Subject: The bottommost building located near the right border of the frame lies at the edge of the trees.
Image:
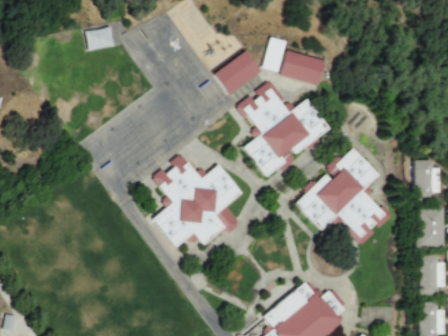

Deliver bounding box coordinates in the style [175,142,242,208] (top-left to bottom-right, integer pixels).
[420,302,446,336]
